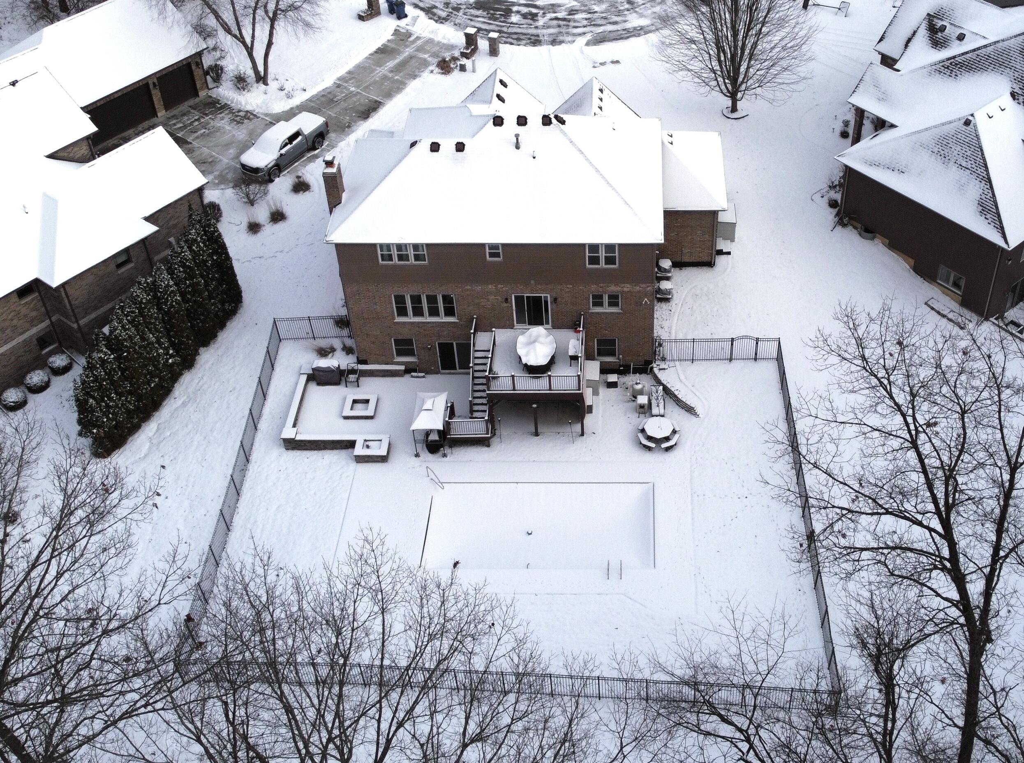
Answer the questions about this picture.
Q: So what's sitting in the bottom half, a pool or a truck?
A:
pool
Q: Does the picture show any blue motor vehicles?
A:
No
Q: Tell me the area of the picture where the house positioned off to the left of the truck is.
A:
top left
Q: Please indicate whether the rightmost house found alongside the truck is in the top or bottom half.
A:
top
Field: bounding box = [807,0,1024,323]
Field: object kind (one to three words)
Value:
house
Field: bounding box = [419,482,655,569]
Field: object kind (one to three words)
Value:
swimming pool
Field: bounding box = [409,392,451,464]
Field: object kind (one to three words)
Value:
gazebo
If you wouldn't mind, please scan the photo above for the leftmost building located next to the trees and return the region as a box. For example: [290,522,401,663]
[0,0,211,390]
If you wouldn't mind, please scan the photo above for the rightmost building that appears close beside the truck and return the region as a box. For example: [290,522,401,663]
[322,69,666,376]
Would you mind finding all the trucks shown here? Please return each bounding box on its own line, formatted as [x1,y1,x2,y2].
[232,111,332,183]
